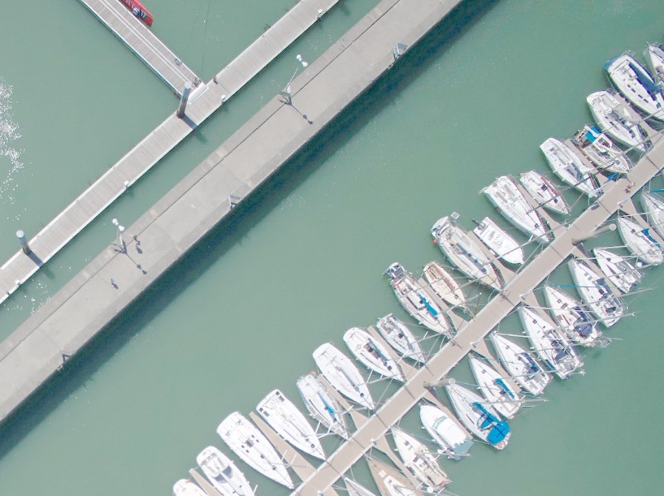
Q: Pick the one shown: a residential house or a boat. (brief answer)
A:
boat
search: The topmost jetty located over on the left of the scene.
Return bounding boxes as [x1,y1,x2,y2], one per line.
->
[78,0,209,104]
